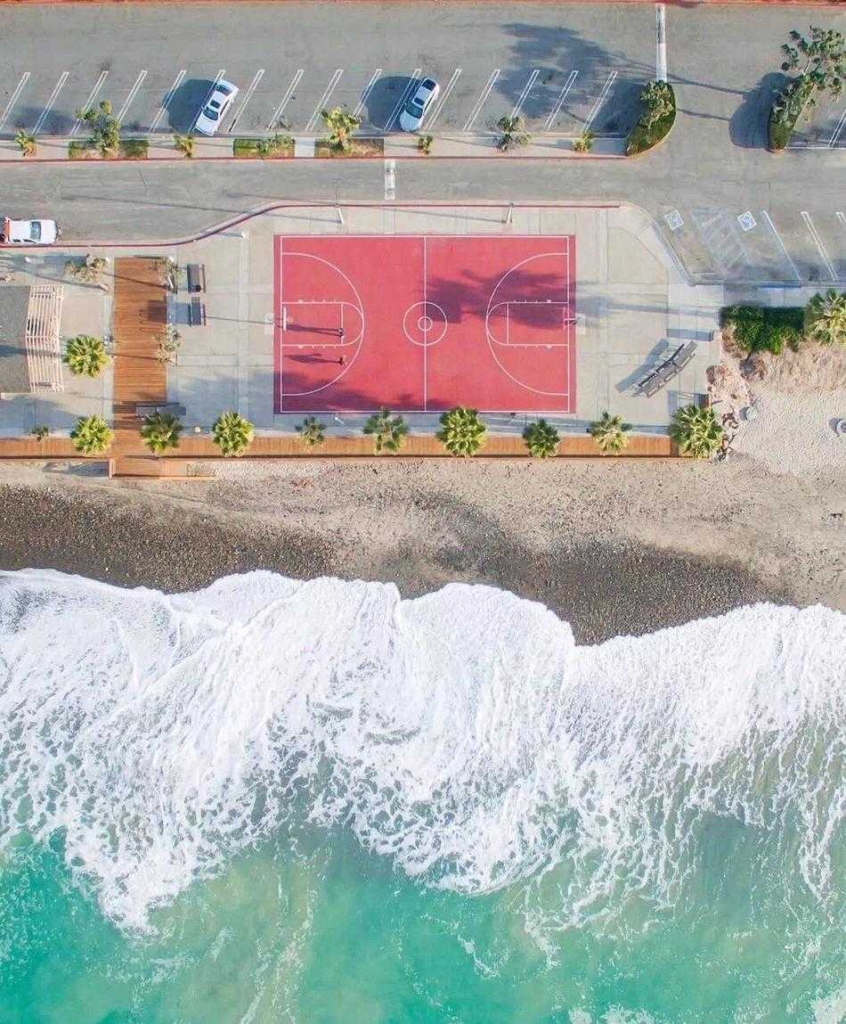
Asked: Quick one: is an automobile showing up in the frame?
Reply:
Yes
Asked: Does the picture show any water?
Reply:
Yes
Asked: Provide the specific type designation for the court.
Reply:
basketball court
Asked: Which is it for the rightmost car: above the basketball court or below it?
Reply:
above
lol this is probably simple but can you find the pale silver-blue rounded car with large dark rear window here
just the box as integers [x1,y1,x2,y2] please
[402,78,439,133]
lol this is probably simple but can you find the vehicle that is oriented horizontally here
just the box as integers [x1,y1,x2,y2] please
[0,216,61,244]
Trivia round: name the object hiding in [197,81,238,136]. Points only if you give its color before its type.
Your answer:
white car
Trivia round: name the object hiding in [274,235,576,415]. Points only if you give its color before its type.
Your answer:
red basketball court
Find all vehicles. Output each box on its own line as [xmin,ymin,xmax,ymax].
[0,216,61,244]
[402,78,439,133]
[197,81,238,136]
